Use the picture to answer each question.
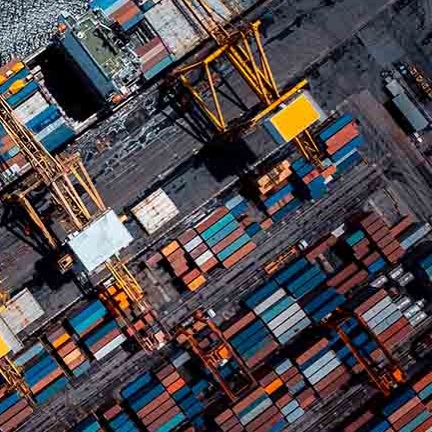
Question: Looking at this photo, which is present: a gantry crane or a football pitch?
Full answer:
There is a gantry crane in the scene.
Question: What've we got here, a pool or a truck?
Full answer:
It is a truck that can be seen here.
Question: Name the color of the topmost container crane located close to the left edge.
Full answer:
The color of the topmost container crane located close to the left edge is white.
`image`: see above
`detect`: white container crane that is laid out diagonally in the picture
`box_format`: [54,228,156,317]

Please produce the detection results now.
[0,83,152,311]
